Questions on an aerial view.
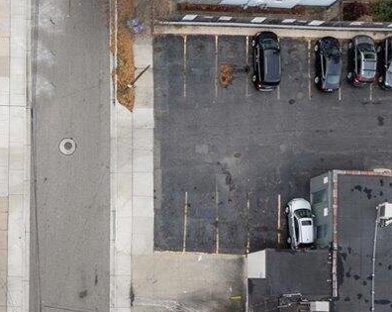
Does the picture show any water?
No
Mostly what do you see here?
paved ground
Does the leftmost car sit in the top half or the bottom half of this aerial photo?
top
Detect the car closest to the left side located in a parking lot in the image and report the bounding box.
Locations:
[251,31,283,90]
